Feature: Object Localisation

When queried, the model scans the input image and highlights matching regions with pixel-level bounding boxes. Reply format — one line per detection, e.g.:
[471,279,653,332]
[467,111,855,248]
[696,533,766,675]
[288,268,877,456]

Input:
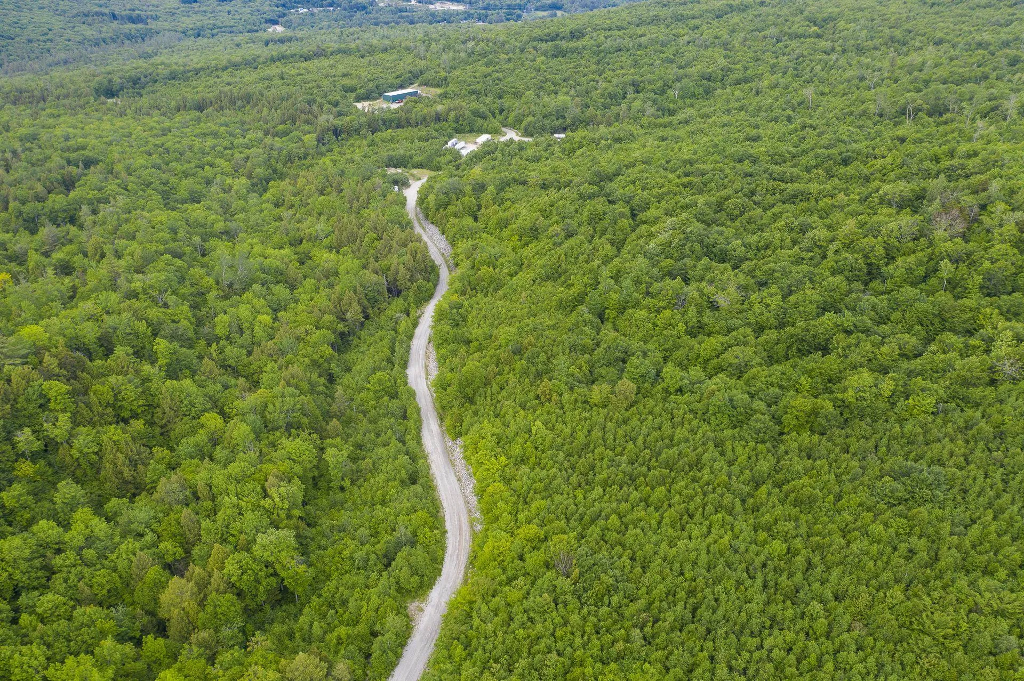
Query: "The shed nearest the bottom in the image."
[382,87,419,102]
